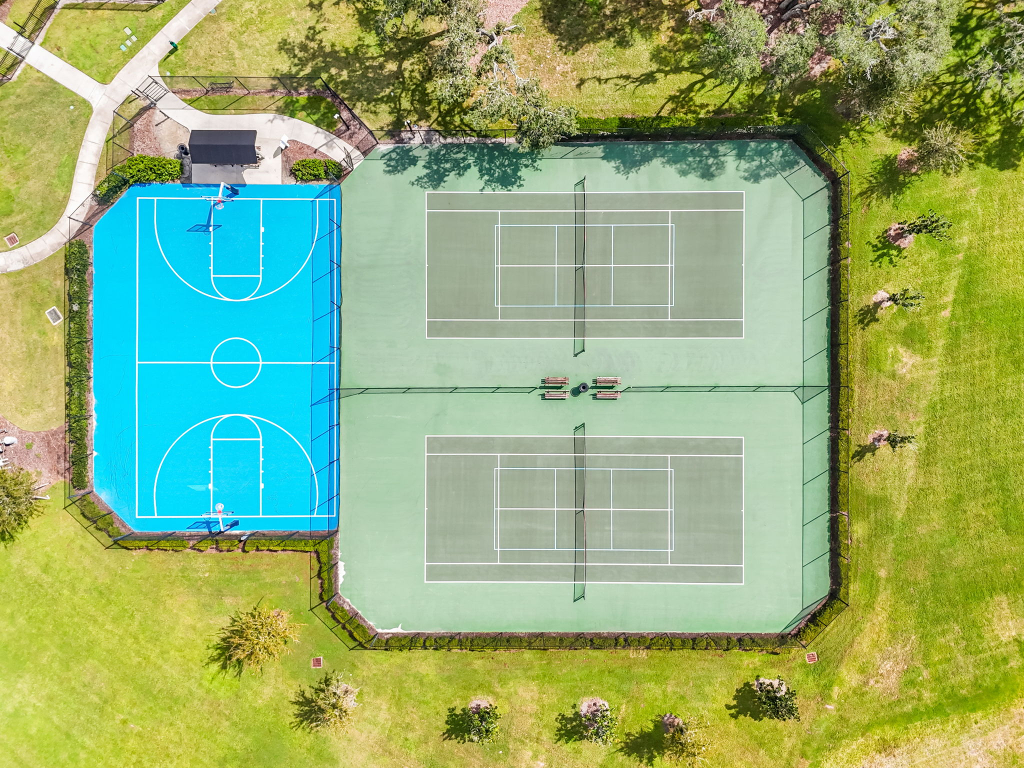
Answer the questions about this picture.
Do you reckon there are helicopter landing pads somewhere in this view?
No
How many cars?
0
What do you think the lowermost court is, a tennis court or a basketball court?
tennis court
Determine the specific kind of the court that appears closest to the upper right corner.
tennis court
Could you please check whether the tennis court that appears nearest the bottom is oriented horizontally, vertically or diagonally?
horizontally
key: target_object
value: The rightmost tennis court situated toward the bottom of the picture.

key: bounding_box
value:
[426,436,744,584]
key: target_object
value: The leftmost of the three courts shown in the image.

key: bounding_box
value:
[93,184,341,531]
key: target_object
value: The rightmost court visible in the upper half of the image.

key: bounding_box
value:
[427,192,744,338]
